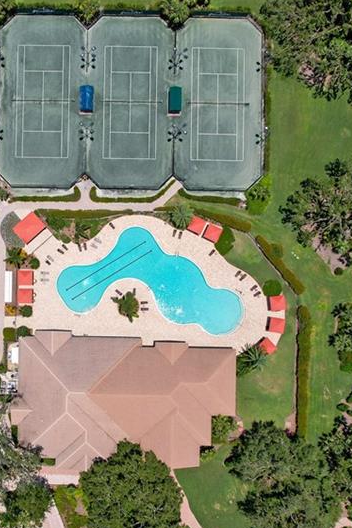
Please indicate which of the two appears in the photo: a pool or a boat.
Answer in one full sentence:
Of the two, only a pool appears.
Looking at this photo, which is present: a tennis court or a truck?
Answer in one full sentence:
Looking from above, you can make out a tennis court.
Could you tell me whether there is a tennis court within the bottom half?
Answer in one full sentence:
No, no tennis court appears within the bottom half.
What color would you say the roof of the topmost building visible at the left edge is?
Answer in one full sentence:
The roof over the topmost building visible at the left edge appears red.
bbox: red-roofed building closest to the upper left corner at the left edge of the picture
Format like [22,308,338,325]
[12,211,47,246]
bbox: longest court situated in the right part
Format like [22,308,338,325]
[173,18,263,190]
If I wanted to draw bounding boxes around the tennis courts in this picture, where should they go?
[173,18,263,190]
[0,16,87,188]
[86,16,175,189]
